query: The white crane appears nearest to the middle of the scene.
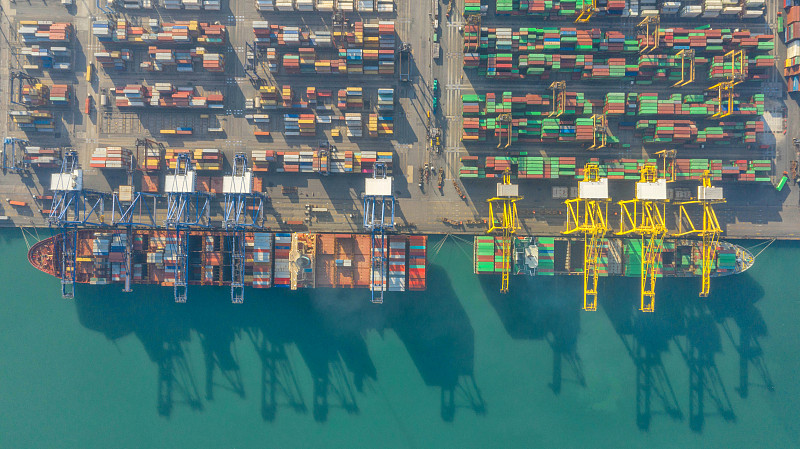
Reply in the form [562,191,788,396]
[362,160,399,304]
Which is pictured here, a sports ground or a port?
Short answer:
port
